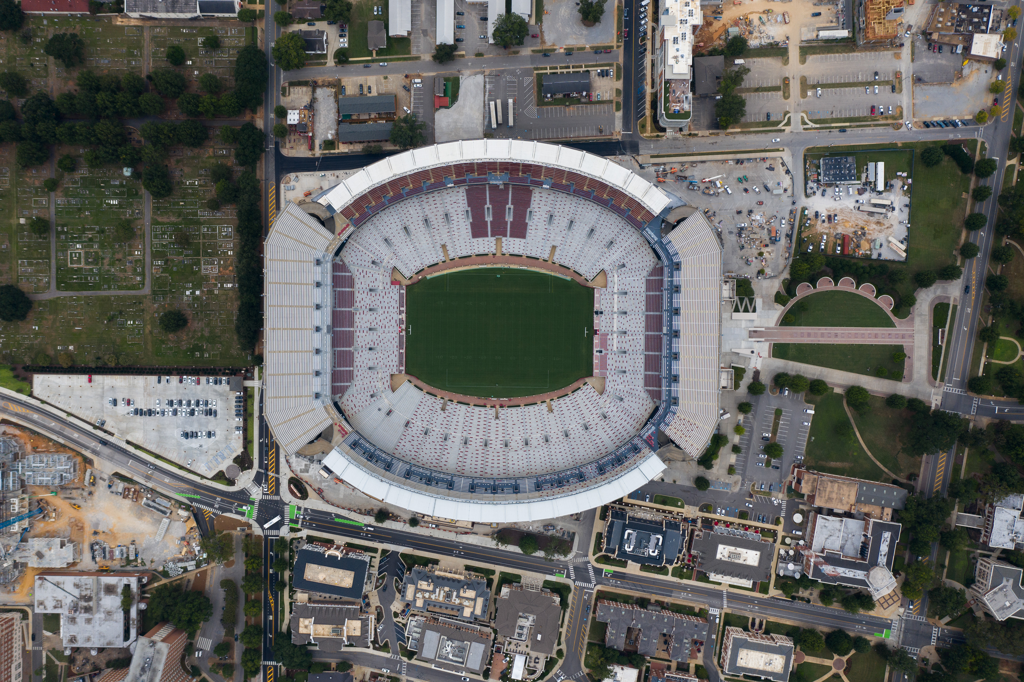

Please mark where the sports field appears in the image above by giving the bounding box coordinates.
[405,266,594,398]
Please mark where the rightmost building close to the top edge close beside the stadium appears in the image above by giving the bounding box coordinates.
[658,0,701,128]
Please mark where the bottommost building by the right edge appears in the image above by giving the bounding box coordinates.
[971,559,1024,622]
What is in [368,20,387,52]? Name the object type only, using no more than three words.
house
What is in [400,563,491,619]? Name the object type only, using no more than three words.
building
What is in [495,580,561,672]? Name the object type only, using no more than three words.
building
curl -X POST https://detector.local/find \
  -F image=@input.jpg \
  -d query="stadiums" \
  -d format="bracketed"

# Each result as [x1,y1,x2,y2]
[258,138,725,524]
